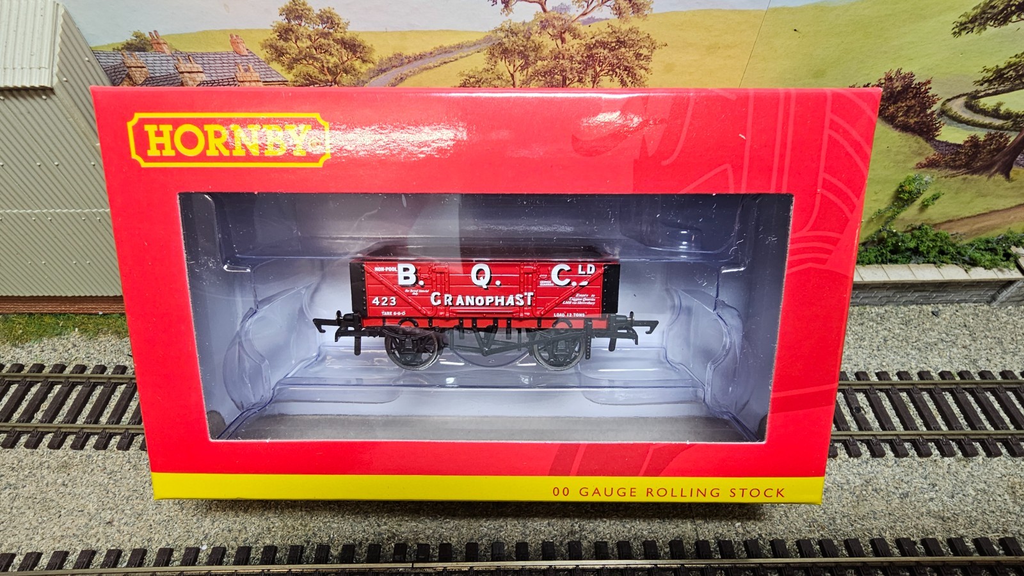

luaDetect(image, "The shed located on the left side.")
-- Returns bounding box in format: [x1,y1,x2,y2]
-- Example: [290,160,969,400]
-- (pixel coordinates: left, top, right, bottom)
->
[0,0,127,313]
